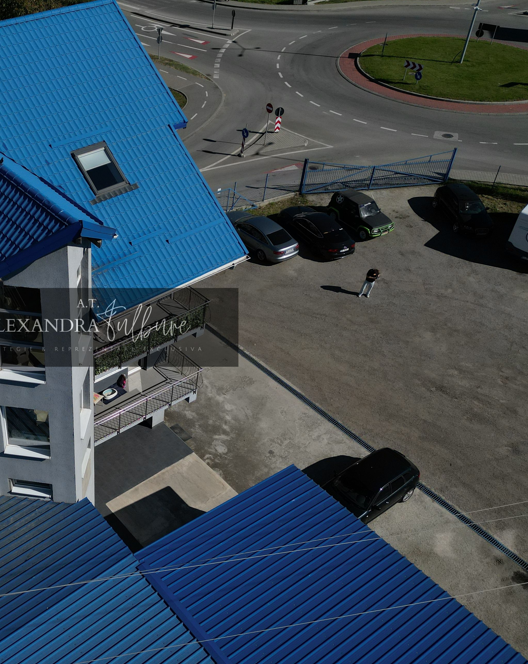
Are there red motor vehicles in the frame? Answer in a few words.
No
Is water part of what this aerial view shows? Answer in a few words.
No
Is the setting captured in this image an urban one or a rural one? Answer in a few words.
urban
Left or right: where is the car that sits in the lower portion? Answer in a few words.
right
